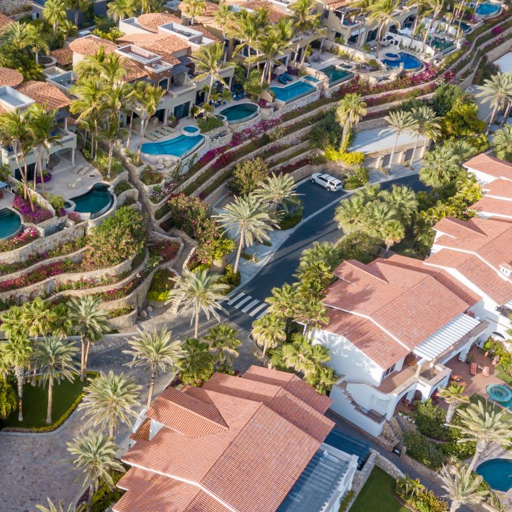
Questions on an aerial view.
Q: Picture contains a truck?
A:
No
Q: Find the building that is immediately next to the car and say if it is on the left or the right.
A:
right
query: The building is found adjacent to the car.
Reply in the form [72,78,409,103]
[348,126,427,173]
